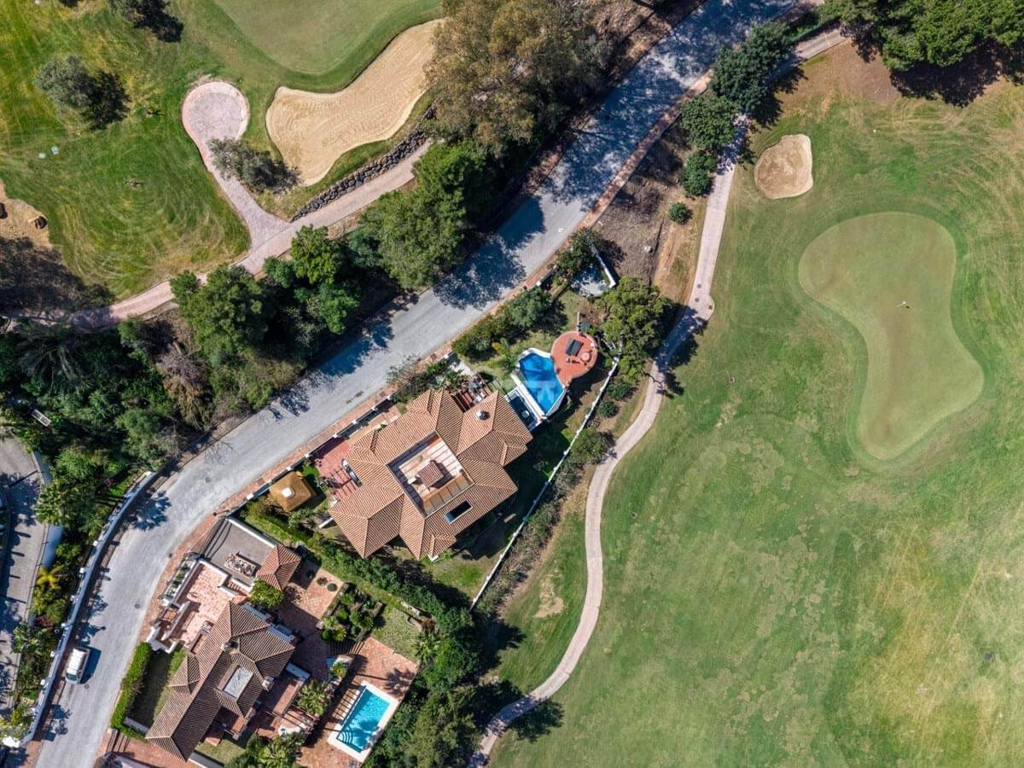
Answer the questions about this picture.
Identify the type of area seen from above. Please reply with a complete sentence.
This image shows a golf course.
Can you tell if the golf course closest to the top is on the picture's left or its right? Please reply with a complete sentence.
You can find the golf course closest to the top on the left side of the picture.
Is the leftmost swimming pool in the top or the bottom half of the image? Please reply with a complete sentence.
The leftmost swimming pool sits in the bottom half of the picture.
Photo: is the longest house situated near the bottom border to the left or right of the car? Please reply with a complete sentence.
In the image, the longest house situated near the bottom border sits on the right side of the car.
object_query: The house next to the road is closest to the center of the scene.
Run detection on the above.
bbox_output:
[328,388,533,559]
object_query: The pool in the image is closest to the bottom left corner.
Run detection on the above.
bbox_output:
[328,680,399,762]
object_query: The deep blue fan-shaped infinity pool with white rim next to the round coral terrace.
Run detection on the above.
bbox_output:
[507,348,569,424]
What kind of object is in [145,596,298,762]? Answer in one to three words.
house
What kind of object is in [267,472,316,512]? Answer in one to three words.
shed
